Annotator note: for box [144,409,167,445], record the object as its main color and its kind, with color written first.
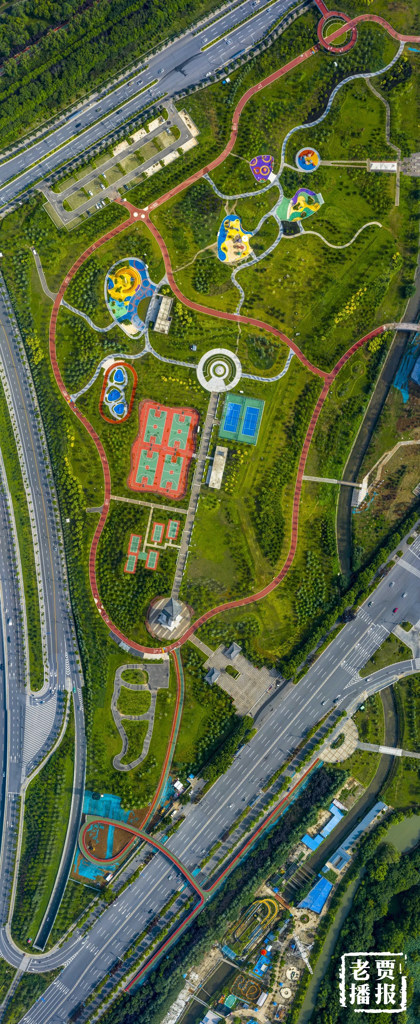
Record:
green basketball court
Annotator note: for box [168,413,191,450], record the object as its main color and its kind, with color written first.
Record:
green basketball court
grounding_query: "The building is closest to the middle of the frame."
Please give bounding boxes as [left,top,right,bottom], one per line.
[209,445,228,489]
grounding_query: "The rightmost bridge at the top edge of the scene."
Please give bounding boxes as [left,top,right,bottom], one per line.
[317,0,357,50]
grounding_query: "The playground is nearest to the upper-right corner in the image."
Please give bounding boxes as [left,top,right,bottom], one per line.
[296,147,321,172]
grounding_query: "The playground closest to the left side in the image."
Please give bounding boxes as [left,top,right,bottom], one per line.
[106,259,156,334]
